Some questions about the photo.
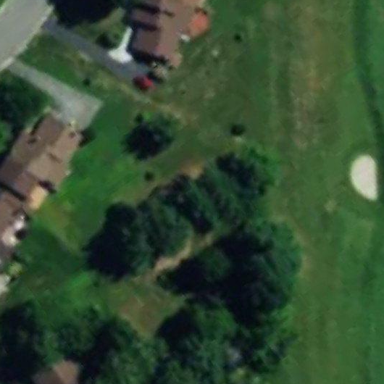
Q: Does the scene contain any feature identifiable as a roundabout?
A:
No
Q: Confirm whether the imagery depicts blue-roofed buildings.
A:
No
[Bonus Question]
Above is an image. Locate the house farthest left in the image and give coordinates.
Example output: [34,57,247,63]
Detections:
[0,189,32,263]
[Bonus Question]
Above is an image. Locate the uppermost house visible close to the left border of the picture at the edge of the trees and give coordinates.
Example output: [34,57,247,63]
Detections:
[3,114,82,210]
